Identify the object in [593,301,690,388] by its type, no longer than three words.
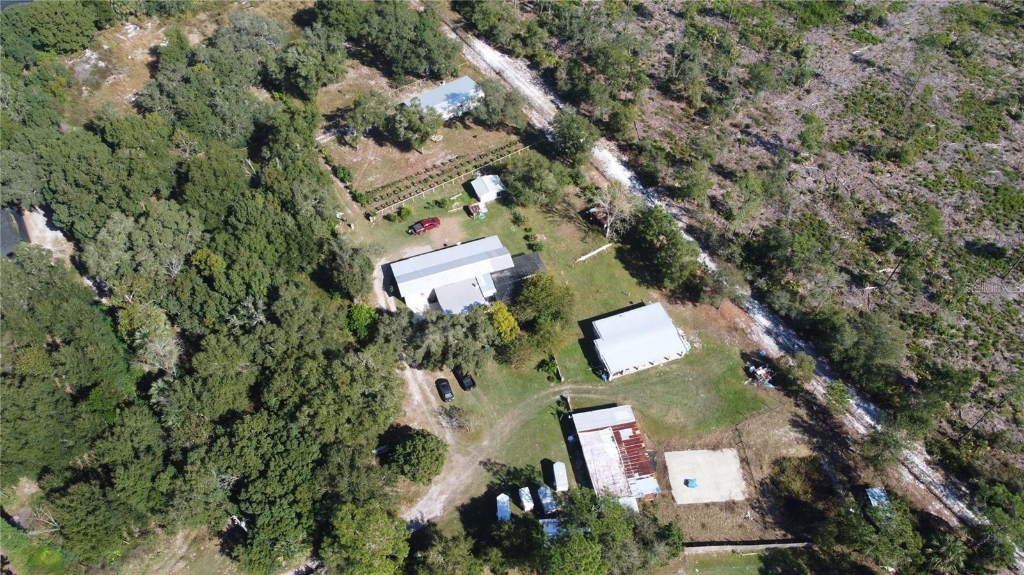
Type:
house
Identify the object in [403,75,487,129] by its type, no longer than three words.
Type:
house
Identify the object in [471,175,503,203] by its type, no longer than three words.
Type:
shed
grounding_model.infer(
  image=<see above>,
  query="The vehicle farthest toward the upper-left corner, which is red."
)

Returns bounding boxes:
[408,219,440,236]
